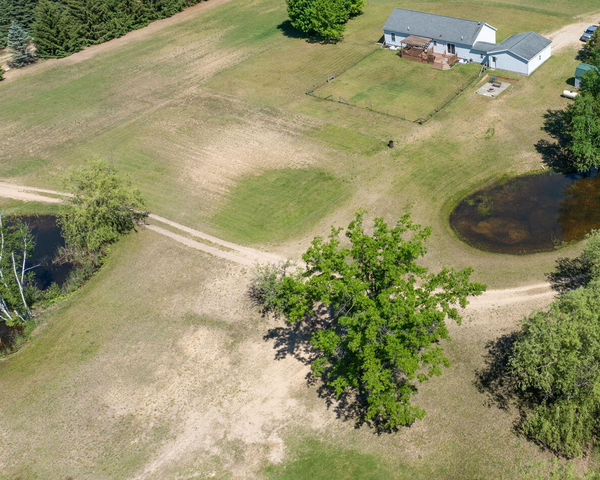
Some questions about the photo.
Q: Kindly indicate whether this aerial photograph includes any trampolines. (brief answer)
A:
No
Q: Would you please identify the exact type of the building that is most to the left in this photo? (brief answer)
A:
home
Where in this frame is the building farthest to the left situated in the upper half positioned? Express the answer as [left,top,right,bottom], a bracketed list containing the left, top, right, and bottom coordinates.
[382,7,557,74]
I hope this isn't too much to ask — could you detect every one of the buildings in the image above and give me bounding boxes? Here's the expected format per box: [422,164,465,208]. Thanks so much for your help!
[574,62,600,91]
[382,7,557,74]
